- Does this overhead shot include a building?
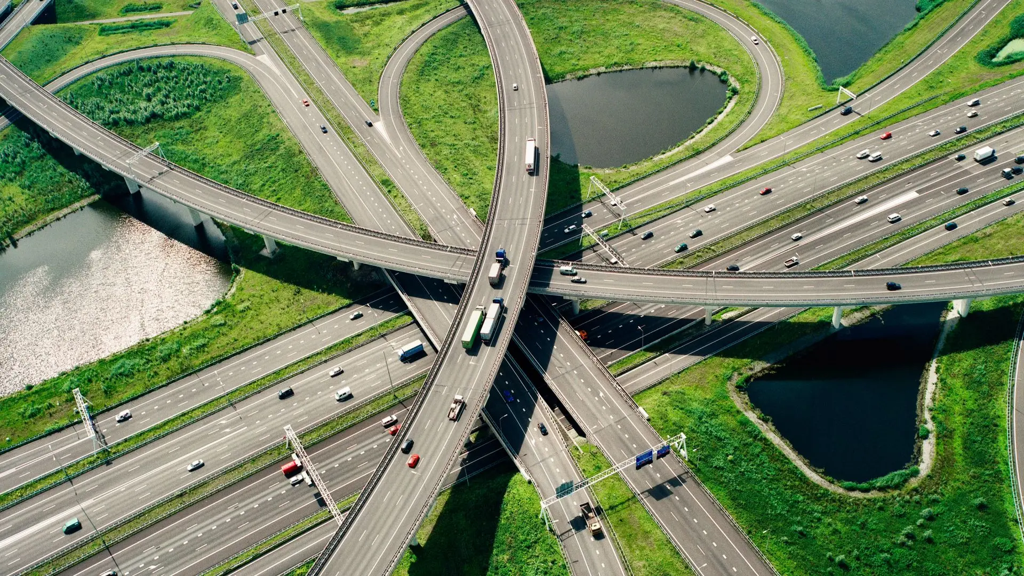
No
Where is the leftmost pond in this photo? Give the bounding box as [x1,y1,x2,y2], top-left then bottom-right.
[0,184,231,396]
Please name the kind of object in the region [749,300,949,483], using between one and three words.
pond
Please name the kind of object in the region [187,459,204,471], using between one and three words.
vehicle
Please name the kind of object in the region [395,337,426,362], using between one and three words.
truck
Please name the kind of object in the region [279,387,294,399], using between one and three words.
vehicle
